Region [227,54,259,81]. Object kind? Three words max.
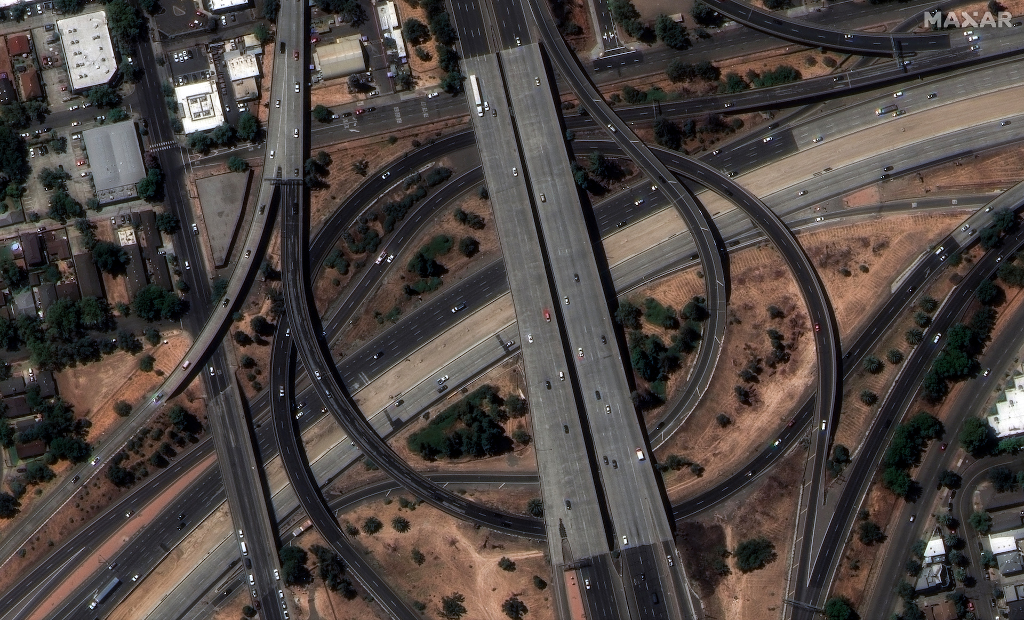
building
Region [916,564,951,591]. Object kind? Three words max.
building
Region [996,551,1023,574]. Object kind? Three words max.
house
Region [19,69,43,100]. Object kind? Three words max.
house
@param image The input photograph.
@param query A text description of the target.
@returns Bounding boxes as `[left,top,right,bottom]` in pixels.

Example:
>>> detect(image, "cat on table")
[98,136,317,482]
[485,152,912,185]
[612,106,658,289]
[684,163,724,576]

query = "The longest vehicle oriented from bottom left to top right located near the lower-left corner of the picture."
[89,576,120,606]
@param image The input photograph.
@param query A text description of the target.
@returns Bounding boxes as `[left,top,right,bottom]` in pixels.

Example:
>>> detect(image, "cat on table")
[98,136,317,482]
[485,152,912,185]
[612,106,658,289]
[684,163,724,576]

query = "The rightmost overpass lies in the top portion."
[949,181,1024,249]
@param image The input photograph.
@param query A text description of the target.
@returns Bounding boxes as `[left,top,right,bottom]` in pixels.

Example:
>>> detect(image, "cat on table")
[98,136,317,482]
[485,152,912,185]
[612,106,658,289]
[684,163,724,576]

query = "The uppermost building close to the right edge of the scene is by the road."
[988,374,1024,437]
